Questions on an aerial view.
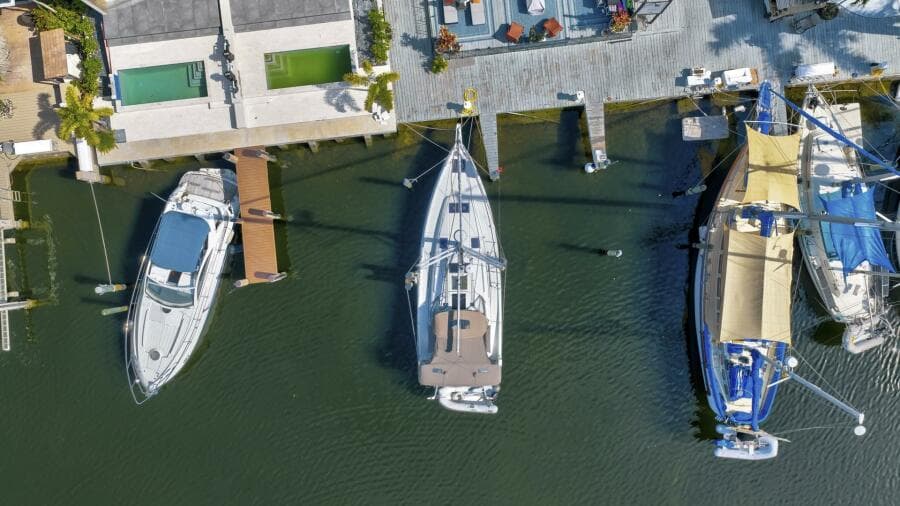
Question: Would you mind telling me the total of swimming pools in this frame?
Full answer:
The picture shows 2 swimming pools.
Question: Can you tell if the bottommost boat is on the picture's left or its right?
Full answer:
The bottommost boat appears in the right half of the scene.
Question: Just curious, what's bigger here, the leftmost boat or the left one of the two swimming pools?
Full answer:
Of the two, the boat is larger and the swimming pool is the smaller one.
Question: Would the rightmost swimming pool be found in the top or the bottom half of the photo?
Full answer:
The top half of the photo is where the rightmost swimming pool is.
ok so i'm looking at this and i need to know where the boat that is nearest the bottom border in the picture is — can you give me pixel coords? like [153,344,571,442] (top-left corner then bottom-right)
[711,425,783,460]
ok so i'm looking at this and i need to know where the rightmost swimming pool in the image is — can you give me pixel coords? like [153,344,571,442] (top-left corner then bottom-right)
[258,41,356,92]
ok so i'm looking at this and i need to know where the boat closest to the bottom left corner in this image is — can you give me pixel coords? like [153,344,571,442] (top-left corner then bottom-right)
[127,168,240,403]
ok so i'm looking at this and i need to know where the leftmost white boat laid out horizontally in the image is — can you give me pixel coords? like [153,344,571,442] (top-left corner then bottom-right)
[435,387,502,414]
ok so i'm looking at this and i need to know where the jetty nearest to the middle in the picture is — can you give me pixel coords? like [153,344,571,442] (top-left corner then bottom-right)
[478,116,499,180]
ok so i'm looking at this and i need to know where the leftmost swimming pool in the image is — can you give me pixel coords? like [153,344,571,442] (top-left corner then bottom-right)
[114,58,214,108]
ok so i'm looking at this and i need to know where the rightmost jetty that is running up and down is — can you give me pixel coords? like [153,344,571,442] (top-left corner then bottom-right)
[771,87,790,134]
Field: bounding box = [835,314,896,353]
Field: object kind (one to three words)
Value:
boat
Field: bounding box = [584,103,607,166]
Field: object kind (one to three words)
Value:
pier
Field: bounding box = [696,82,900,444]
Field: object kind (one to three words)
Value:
boat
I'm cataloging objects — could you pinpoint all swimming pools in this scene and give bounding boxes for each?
[114,58,214,108]
[258,41,356,92]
